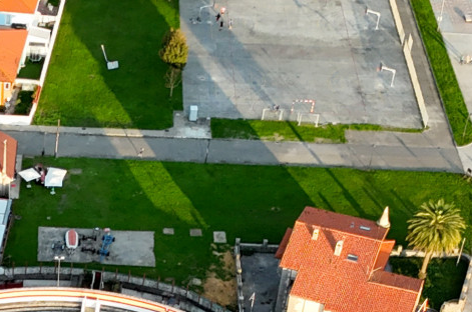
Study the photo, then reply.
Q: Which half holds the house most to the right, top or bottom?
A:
bottom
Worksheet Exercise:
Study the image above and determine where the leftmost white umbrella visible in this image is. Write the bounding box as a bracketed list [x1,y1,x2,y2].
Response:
[16,164,45,191]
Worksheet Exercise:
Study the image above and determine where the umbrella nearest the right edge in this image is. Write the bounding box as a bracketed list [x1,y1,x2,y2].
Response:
[41,170,70,195]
